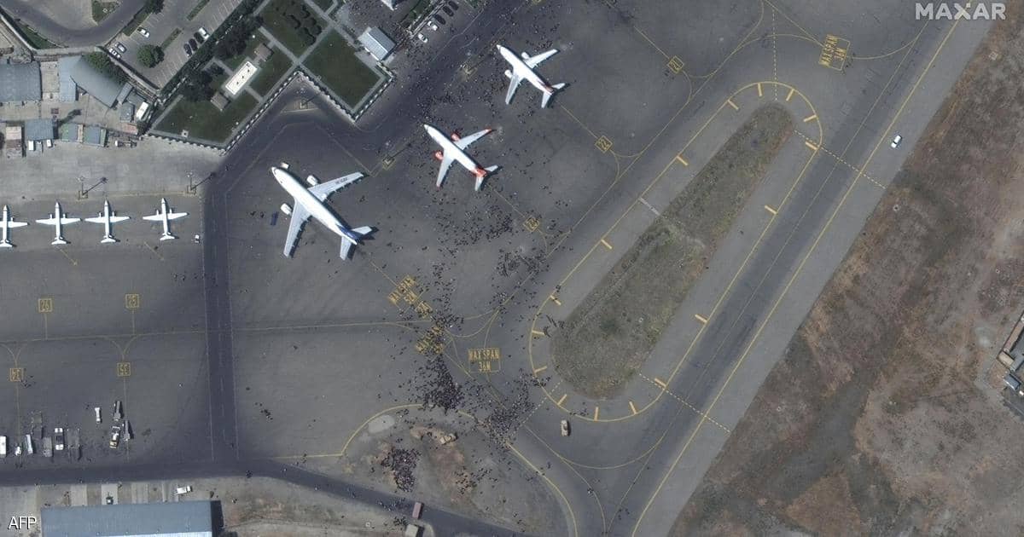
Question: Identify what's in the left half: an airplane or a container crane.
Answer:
airplane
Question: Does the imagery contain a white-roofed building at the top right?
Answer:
No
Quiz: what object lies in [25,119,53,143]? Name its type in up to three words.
building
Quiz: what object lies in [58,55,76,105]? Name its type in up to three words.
building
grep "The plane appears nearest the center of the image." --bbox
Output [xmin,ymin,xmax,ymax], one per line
[424,124,498,189]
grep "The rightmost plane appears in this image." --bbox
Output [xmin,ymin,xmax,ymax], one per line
[497,45,567,107]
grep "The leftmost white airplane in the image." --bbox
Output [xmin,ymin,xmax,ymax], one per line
[0,206,27,246]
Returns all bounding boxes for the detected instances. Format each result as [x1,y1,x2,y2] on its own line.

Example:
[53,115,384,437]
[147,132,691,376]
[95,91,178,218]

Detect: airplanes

[36,203,80,243]
[497,45,567,107]
[424,124,498,189]
[144,199,187,239]
[86,201,129,241]
[272,167,372,258]
[0,206,27,246]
